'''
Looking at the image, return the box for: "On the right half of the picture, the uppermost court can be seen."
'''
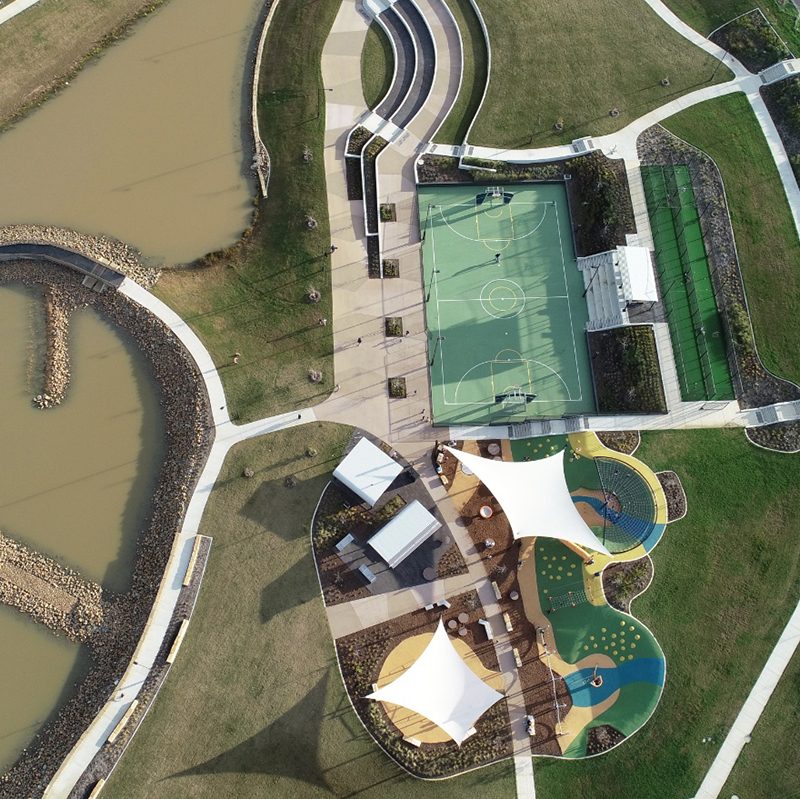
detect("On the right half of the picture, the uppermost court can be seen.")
[418,186,594,426]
